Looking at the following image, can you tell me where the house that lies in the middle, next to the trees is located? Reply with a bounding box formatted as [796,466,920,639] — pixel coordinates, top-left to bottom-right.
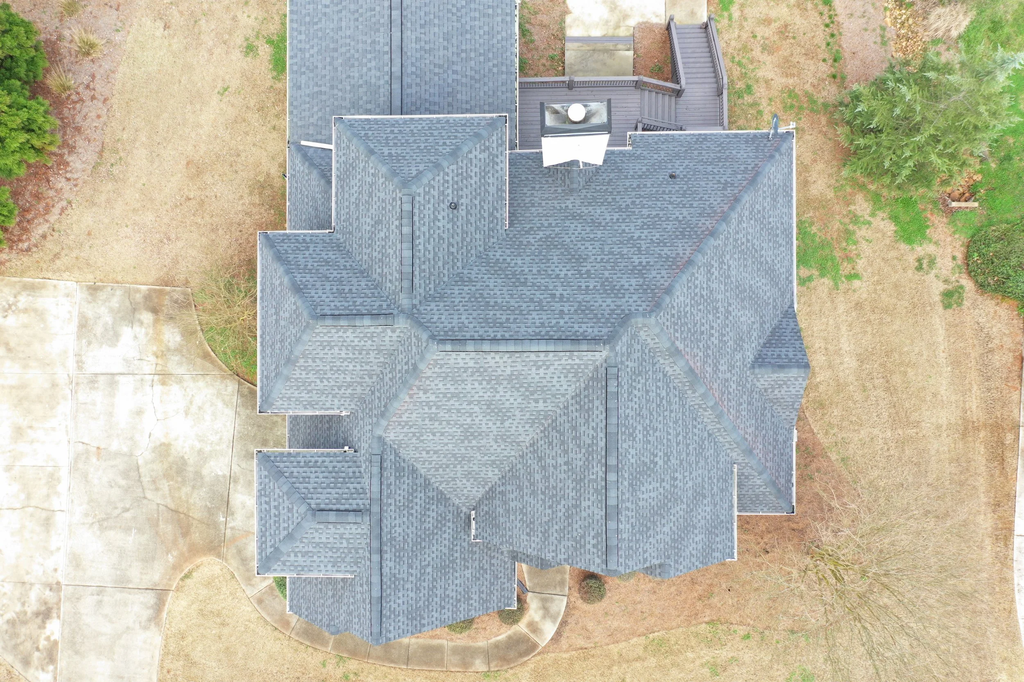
[253,0,809,647]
